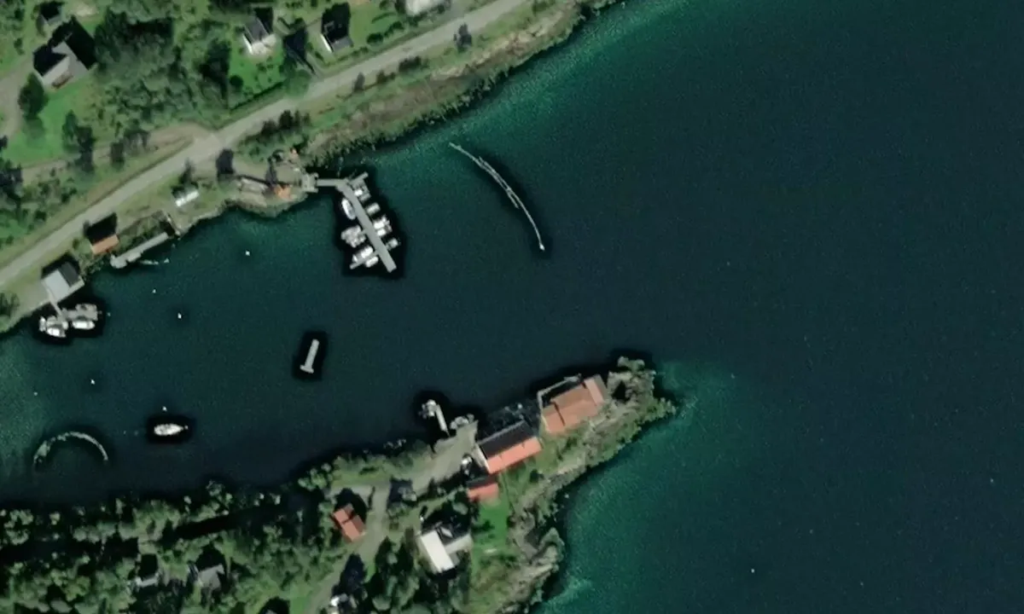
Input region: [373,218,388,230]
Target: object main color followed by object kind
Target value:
white boat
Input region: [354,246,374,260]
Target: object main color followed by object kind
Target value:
white boat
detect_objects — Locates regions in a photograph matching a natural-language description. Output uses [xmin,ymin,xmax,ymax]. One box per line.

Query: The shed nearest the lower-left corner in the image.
[132,565,160,585]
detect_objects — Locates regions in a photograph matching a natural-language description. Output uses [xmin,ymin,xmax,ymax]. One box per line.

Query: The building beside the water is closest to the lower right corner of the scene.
[537,375,611,431]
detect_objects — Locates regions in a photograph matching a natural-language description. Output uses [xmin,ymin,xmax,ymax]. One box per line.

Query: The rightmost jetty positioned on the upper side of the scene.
[317,172,398,273]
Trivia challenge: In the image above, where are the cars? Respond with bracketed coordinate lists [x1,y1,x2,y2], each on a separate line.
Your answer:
[462,465,470,477]
[461,455,471,467]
